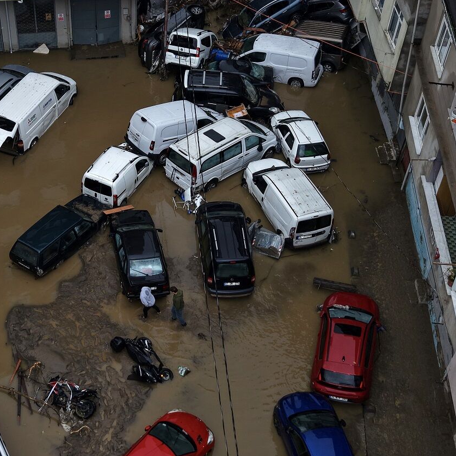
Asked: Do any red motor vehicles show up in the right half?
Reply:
Yes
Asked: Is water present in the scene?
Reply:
Yes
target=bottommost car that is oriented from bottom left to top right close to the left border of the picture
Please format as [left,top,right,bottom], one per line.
[15,197,111,278]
